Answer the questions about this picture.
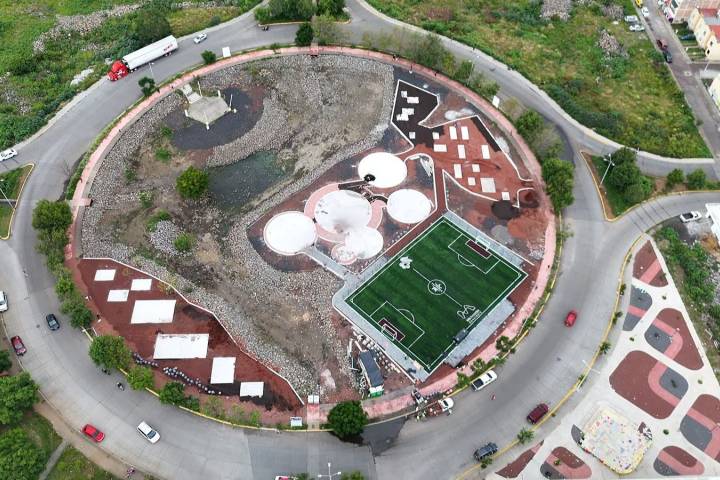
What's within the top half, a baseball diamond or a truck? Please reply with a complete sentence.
There is a truck within the top half.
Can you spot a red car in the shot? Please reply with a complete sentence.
Yes, a red car appears in the view.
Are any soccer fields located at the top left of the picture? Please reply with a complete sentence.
No, no soccer field appears at the top left of the picture.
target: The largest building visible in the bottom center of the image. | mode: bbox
[359,351,383,388]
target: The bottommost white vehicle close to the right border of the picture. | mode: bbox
[679,209,703,223]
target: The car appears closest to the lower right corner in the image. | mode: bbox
[525,401,551,424]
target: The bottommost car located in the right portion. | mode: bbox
[471,439,501,462]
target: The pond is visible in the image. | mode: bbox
[205,149,290,216]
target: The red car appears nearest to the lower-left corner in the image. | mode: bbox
[80,422,105,443]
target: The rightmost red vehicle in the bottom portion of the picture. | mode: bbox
[562,309,578,328]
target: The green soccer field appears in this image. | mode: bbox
[345,214,529,373]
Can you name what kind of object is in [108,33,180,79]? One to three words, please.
truck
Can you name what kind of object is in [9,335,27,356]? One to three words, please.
car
